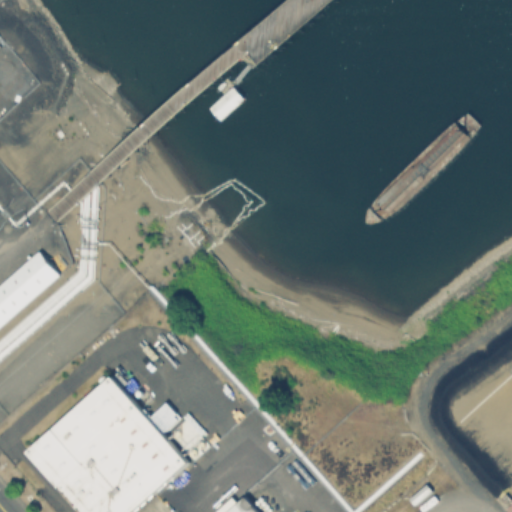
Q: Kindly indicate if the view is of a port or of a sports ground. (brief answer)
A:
port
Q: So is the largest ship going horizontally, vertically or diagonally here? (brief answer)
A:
diagonally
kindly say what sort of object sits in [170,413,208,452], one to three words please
shed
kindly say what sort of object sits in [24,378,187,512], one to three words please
warehouse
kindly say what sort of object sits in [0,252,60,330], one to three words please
building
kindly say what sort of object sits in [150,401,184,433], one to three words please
shed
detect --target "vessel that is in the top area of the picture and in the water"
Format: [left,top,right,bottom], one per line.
[366,114,482,224]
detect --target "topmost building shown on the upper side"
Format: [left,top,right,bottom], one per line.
[208,86,246,123]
